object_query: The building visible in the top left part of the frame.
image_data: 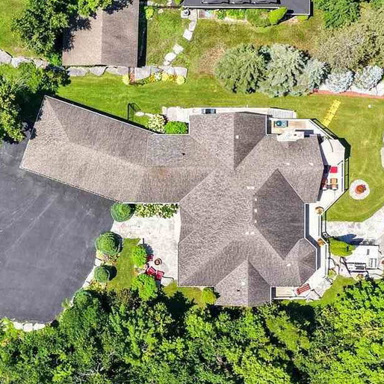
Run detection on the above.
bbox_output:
[62,0,140,68]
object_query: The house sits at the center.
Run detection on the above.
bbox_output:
[20,95,324,306]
